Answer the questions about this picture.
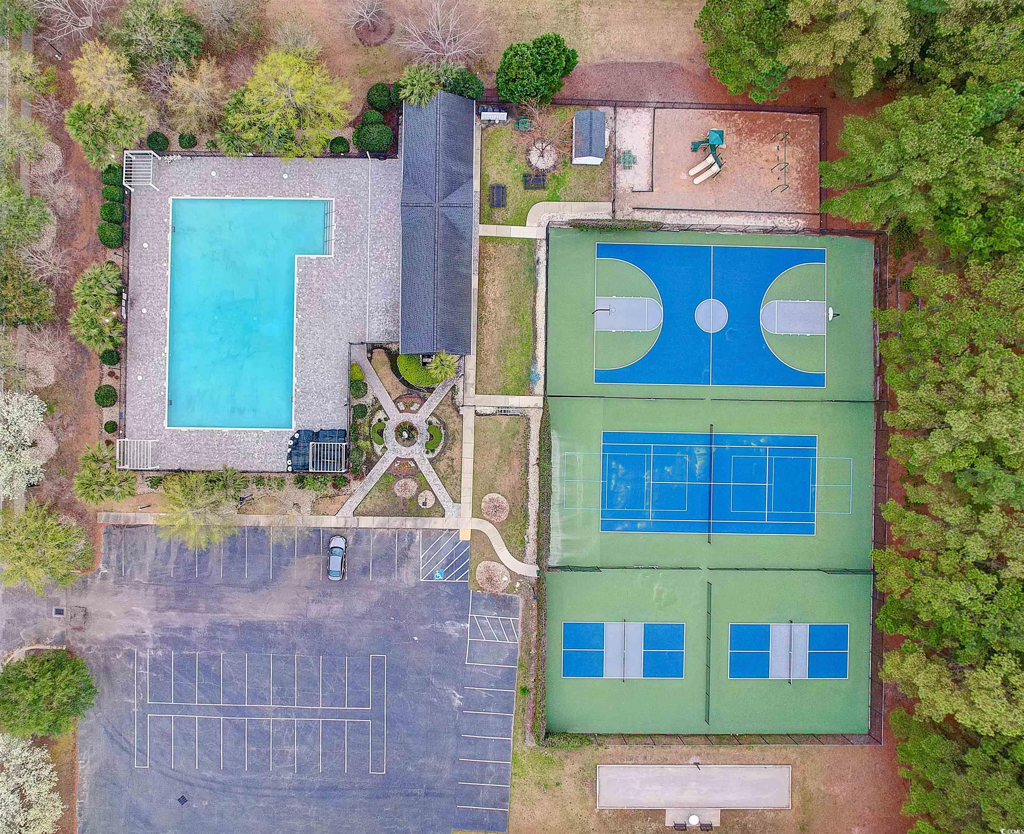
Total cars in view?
one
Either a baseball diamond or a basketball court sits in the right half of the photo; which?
basketball court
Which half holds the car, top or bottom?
bottom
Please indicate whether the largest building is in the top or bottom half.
top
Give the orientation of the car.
from top to bottom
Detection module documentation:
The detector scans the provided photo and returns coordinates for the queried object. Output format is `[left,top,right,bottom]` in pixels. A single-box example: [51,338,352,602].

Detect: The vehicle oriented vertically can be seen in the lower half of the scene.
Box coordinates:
[328,537,348,582]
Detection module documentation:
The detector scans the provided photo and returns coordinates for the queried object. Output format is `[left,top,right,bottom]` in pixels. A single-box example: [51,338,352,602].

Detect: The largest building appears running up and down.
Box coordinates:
[399,89,476,355]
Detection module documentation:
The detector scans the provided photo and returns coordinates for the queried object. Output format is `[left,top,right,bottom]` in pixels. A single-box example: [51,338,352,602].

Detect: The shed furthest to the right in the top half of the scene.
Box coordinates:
[574,107,606,164]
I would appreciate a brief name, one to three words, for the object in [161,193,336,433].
swimming pool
